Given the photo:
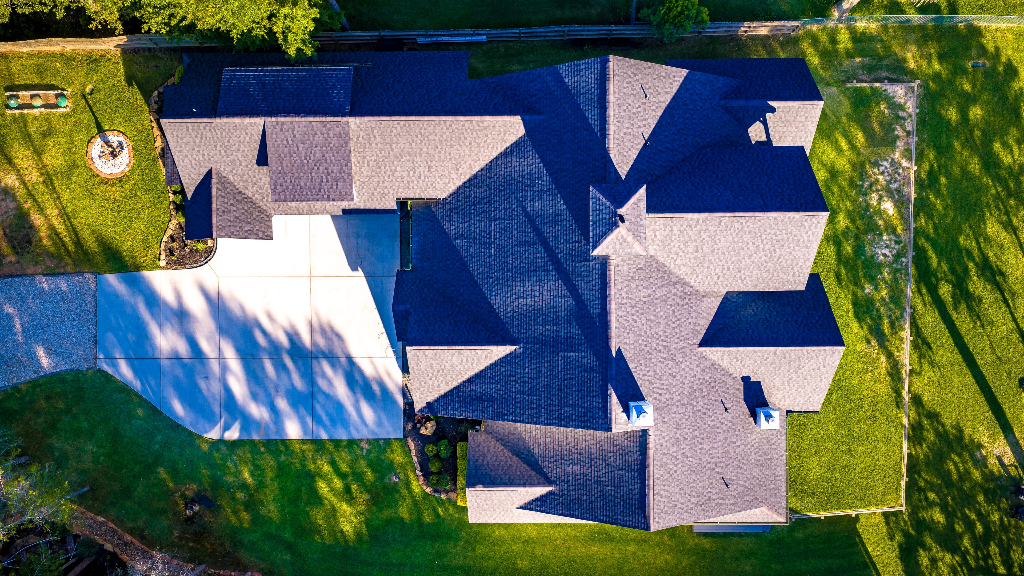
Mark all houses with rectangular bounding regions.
[156,51,845,532]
